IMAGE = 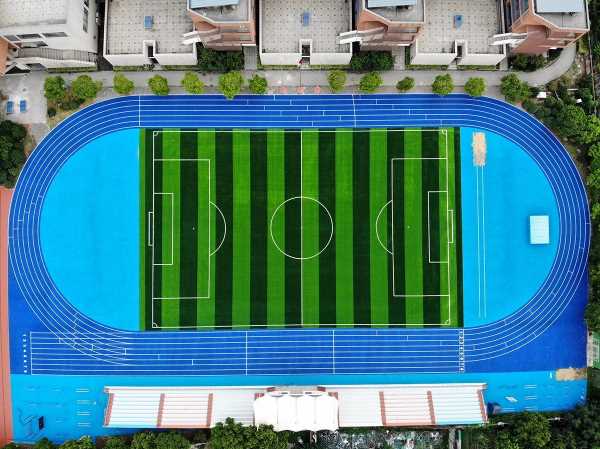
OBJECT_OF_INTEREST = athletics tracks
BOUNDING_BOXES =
[6,93,594,375]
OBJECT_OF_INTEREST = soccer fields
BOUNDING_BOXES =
[139,127,463,329]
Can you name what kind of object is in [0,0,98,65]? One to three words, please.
building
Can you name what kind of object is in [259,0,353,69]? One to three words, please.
building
